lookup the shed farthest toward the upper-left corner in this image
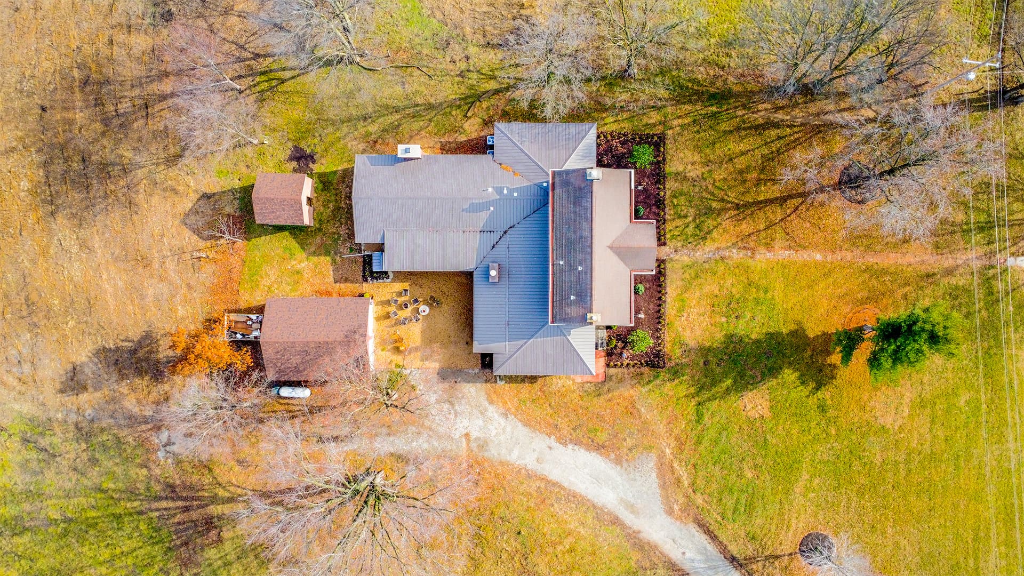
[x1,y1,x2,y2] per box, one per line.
[252,175,312,225]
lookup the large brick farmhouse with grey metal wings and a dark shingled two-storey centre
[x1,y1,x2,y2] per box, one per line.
[352,121,656,376]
